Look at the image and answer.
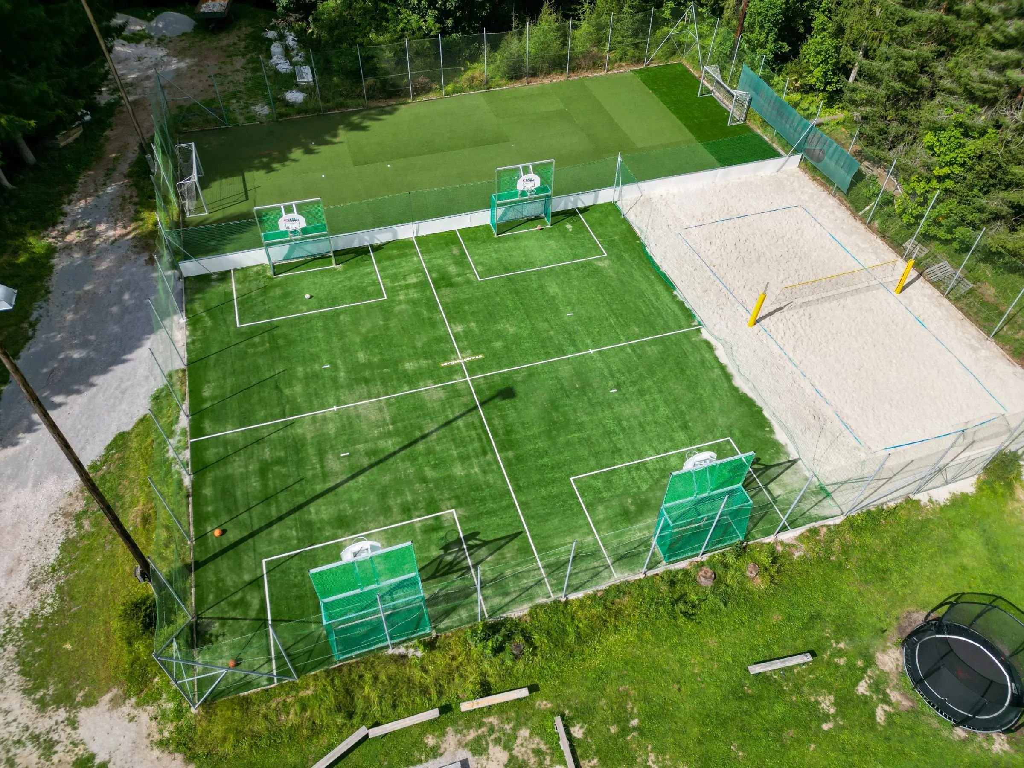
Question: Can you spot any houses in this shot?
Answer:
No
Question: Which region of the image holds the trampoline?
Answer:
bottom right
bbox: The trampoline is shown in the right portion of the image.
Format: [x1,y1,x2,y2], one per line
[894,600,1024,738]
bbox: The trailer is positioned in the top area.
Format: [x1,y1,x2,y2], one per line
[193,0,238,33]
